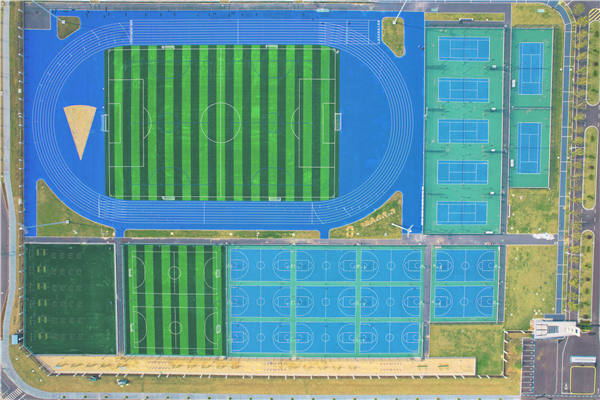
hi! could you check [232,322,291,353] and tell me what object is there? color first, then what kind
blue basketball court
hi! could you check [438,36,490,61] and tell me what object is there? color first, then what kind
blue tennis court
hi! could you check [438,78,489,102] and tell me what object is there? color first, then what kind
blue tennis court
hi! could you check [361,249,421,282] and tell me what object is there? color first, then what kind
blue basketball court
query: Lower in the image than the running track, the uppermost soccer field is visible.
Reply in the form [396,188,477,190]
[130,249,220,297]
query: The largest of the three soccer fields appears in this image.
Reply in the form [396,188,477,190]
[104,45,340,200]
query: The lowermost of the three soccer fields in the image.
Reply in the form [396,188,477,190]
[131,303,220,351]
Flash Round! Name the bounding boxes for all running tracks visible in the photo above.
[24,9,425,238]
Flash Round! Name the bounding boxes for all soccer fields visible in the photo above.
[104,45,340,200]
[131,303,220,351]
[130,249,220,297]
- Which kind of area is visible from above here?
sports ground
